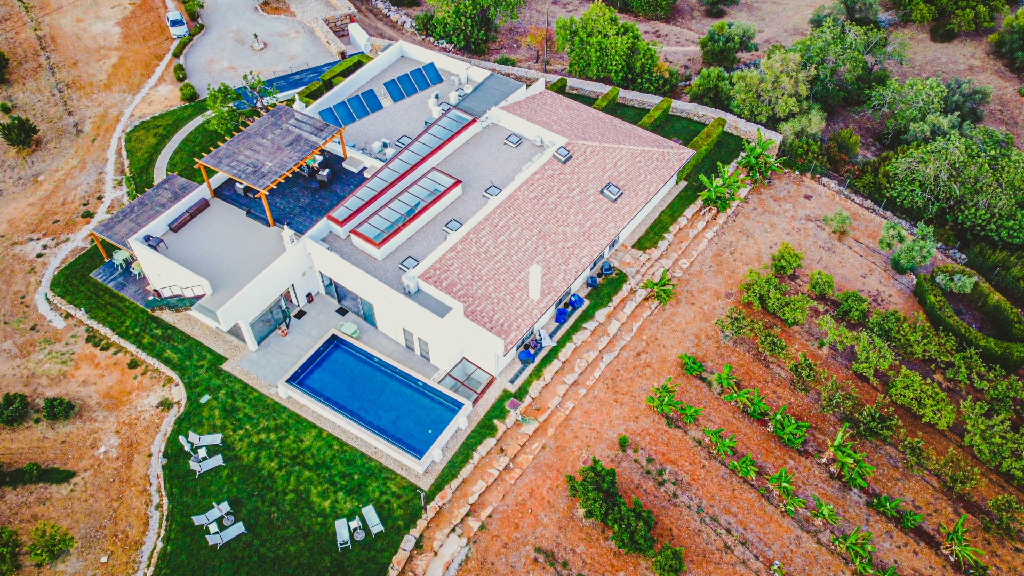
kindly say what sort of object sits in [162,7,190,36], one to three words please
car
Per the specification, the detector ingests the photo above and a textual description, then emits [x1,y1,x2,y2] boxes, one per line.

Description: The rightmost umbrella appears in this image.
[354,517,366,540]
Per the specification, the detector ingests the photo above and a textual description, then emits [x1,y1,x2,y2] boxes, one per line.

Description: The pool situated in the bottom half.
[277,329,472,473]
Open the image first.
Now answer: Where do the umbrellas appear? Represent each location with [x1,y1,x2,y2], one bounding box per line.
[354,517,366,540]
[215,504,235,526]
[180,441,202,460]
